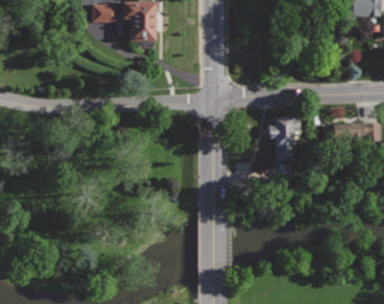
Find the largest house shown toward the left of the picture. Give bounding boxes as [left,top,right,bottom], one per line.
[124,1,164,48]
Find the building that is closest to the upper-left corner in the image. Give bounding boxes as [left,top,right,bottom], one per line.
[92,3,118,22]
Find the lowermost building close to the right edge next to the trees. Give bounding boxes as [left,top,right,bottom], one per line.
[336,122,382,144]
